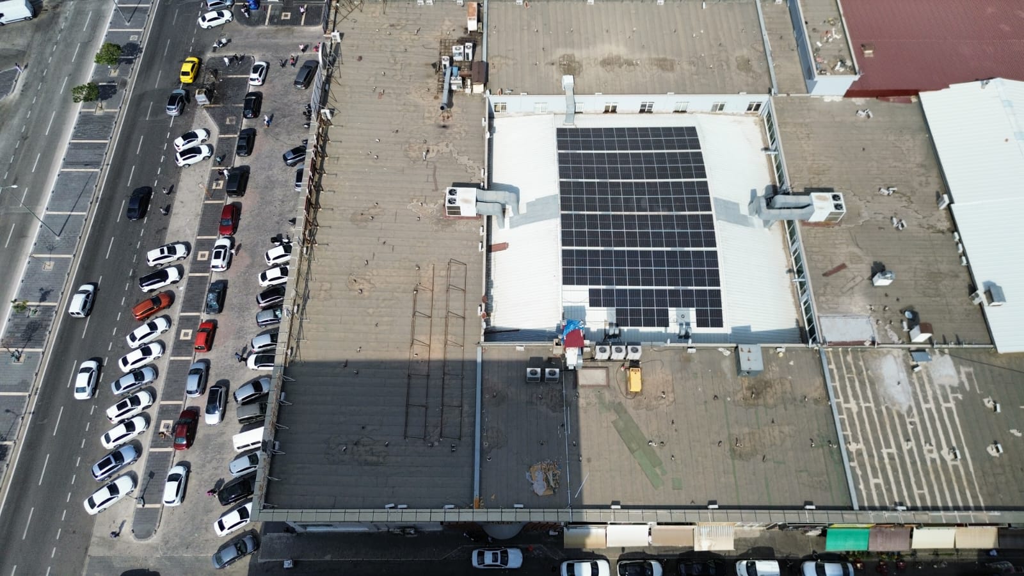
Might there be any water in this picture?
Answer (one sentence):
No, the scene doesn't show any water.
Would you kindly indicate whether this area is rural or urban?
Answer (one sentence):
From above, the setting appears urban.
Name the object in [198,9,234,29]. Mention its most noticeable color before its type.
white car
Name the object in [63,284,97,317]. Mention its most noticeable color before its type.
white van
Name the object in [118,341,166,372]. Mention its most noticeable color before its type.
white car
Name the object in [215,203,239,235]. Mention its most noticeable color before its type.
red car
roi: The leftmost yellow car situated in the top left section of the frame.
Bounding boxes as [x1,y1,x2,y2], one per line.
[177,57,200,83]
